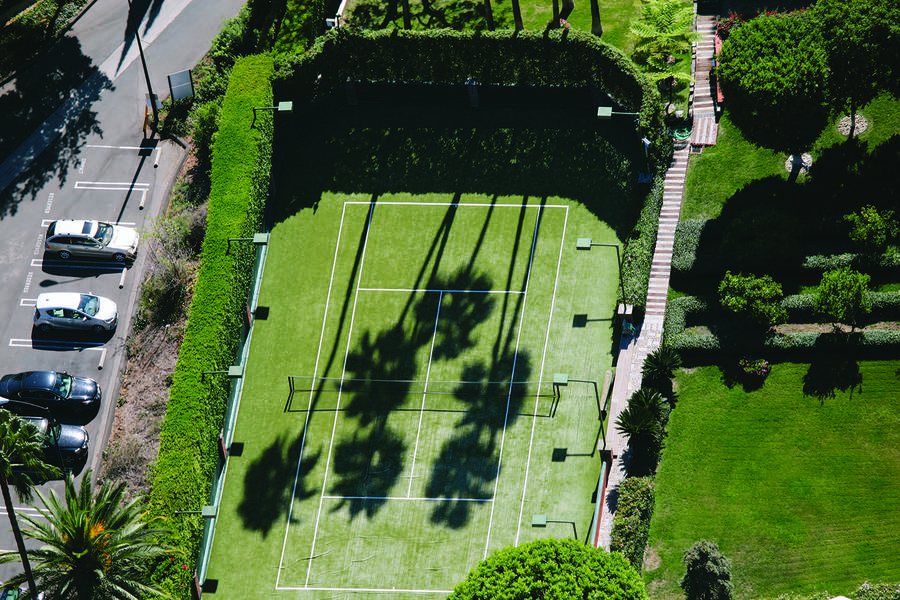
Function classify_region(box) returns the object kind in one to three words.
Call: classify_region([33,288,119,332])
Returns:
car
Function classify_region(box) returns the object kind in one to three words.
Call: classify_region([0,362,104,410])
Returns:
car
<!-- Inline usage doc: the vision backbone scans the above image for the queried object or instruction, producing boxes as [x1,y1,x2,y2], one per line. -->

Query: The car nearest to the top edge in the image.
[44,216,142,261]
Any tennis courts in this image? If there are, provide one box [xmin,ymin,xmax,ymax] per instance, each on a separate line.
[204,102,635,600]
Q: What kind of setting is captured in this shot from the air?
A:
sports ground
